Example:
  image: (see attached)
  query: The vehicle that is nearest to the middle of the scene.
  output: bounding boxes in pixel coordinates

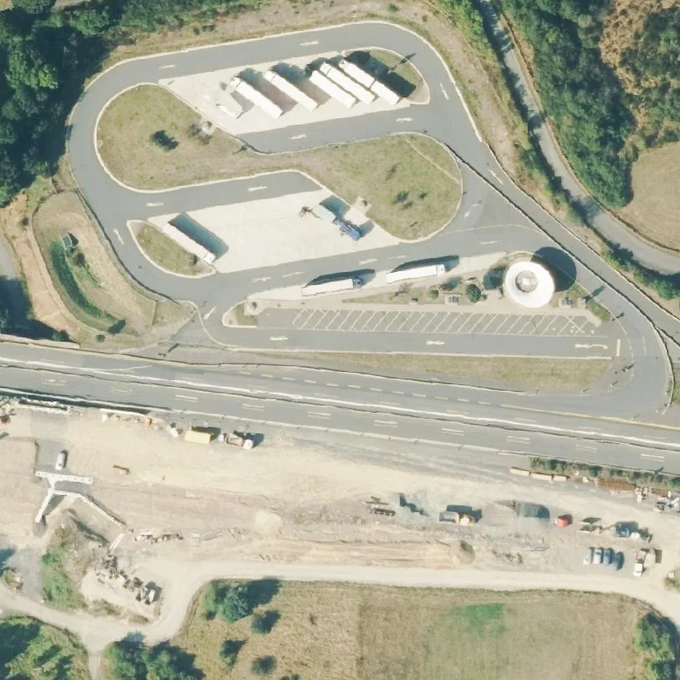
[299,278,362,296]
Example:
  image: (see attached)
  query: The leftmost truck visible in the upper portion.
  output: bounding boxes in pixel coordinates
[161,221,216,263]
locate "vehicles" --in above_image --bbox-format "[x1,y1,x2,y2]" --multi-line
[305,65,359,111]
[613,554,623,570]
[441,511,473,526]
[386,264,447,282]
[322,61,376,104]
[598,521,631,538]
[644,550,656,573]
[586,549,595,565]
[299,278,362,296]
[341,57,399,104]
[631,532,641,540]
[161,221,216,263]
[603,549,611,565]
[320,207,363,240]
[594,548,602,565]
[264,69,320,113]
[225,433,256,450]
[54,450,65,470]
[555,519,568,525]
[633,551,646,575]
[230,75,284,120]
